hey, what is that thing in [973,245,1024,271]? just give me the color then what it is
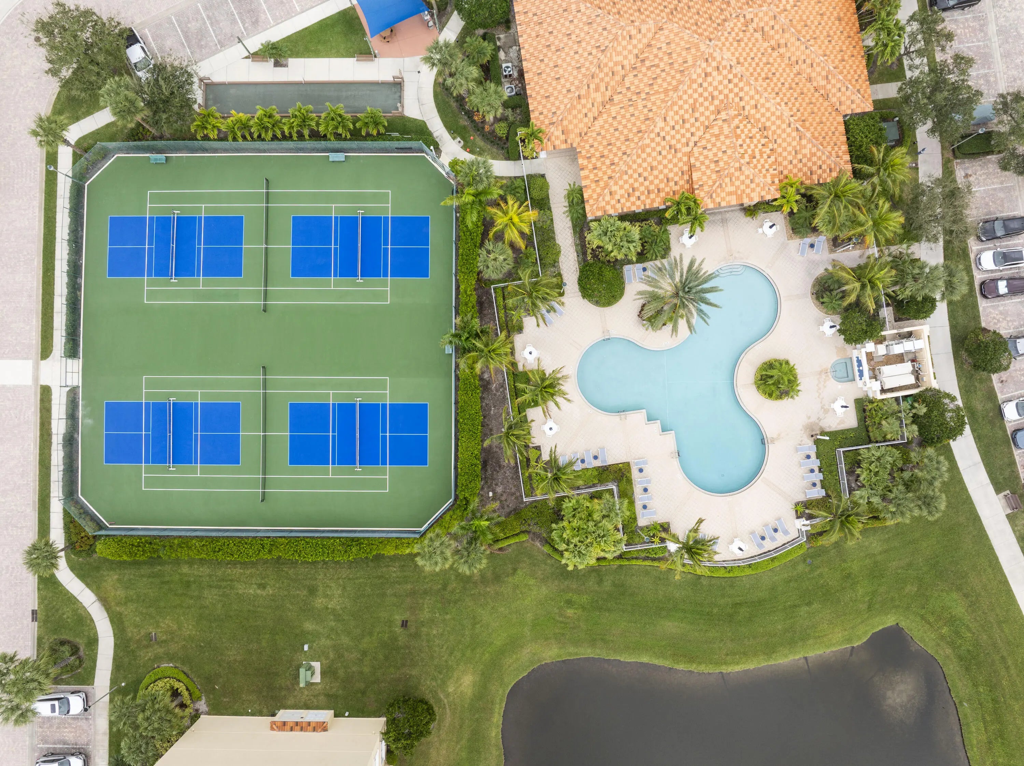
white car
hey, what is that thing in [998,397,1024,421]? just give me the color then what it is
white car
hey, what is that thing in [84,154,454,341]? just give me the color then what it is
green tennis court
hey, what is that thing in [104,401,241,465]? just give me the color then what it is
blue sports court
